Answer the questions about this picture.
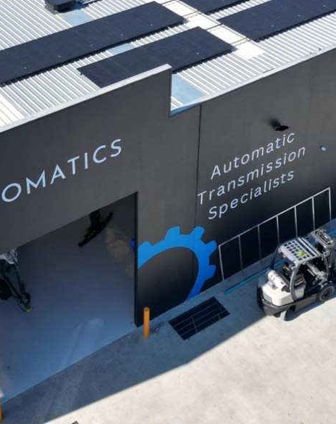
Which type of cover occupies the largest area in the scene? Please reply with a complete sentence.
The scene is dominated by buildings.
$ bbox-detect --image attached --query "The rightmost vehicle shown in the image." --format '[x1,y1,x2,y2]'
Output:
[255,227,336,325]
